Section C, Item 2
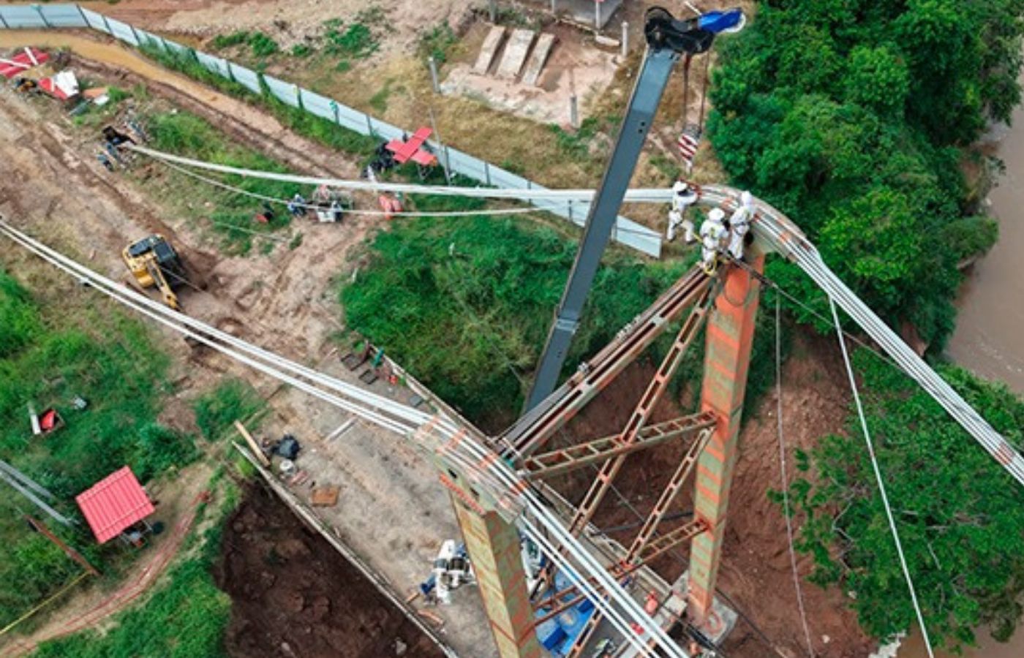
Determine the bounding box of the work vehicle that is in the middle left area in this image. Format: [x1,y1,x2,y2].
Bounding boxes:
[109,221,185,315]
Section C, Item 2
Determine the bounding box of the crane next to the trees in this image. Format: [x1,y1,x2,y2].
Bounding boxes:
[408,0,721,658]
